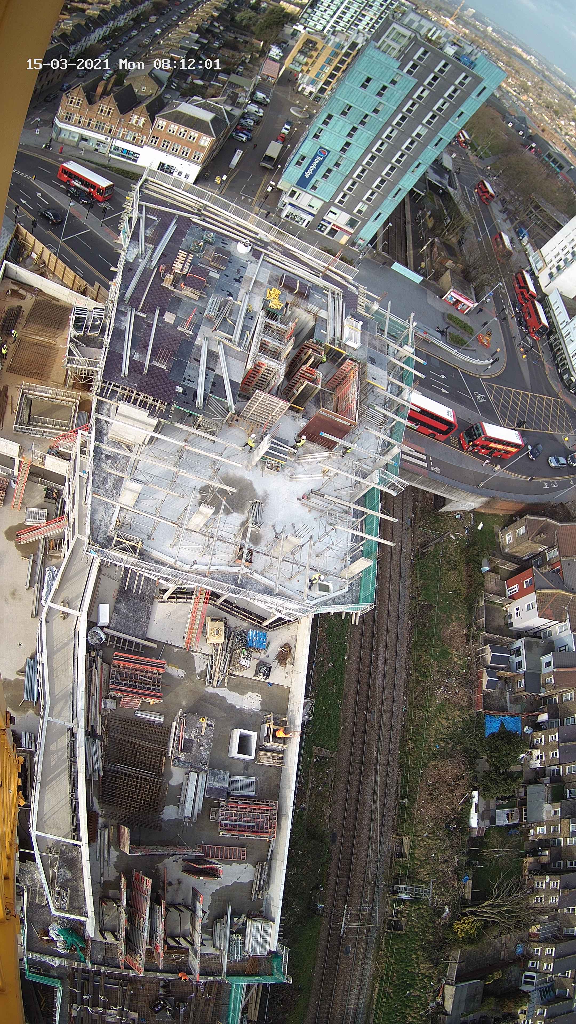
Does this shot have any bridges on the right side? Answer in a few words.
Yes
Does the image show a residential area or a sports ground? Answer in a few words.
residential area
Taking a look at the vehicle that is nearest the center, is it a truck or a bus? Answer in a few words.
bus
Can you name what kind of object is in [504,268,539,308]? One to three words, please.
bus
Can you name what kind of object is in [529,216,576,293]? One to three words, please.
building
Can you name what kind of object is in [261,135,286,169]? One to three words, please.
truck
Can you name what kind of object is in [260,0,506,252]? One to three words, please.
building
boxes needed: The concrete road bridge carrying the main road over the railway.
[387,457,492,512]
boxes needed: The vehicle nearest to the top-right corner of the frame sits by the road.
[454,130,471,151]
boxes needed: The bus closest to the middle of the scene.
[395,389,455,438]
